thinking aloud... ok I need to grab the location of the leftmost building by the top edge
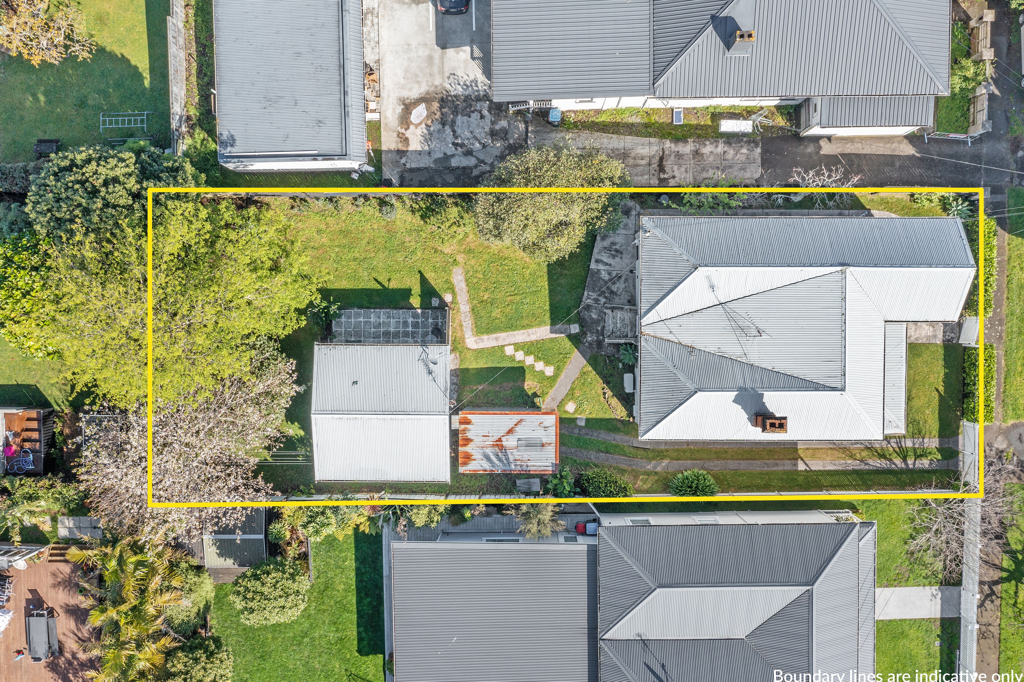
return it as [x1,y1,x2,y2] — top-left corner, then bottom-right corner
[210,0,373,172]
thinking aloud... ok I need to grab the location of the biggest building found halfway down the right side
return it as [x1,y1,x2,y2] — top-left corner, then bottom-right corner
[604,215,977,443]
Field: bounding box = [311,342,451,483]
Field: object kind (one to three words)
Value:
shed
